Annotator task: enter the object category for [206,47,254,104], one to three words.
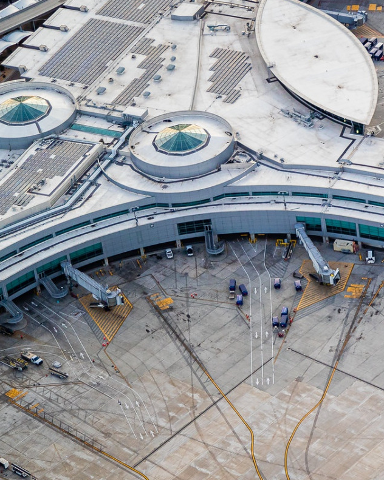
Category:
solar array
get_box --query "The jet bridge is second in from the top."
[295,227,342,287]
